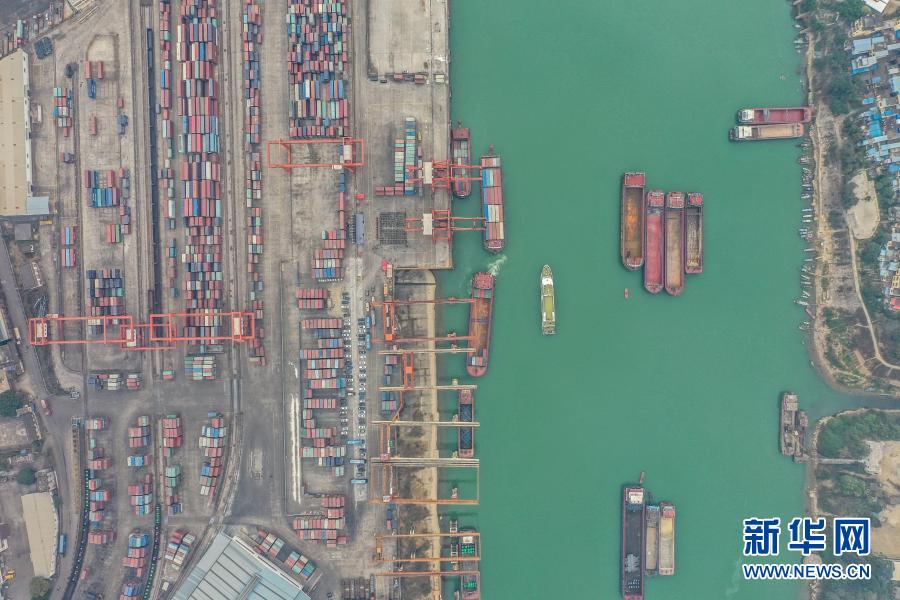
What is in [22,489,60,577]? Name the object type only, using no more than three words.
building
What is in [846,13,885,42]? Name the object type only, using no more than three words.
house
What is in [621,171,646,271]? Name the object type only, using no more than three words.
ship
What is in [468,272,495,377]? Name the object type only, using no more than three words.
ship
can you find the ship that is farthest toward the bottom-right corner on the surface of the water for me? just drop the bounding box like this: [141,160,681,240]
[780,392,799,456]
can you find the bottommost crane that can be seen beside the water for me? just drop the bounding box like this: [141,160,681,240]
[375,562,481,600]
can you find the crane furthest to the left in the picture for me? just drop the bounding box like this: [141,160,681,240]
[29,312,135,344]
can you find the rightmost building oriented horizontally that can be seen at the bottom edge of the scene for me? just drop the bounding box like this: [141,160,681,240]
[171,529,333,600]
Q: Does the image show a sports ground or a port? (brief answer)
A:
port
